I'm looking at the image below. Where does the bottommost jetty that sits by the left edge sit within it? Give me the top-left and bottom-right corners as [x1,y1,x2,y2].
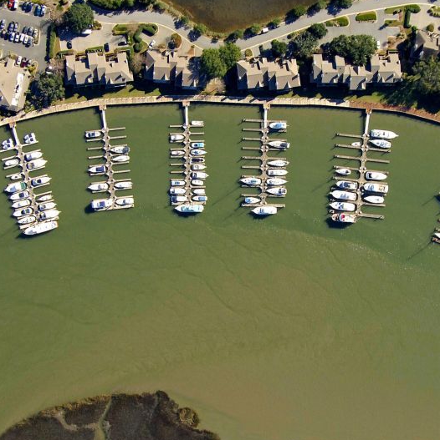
[1,122,56,228]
